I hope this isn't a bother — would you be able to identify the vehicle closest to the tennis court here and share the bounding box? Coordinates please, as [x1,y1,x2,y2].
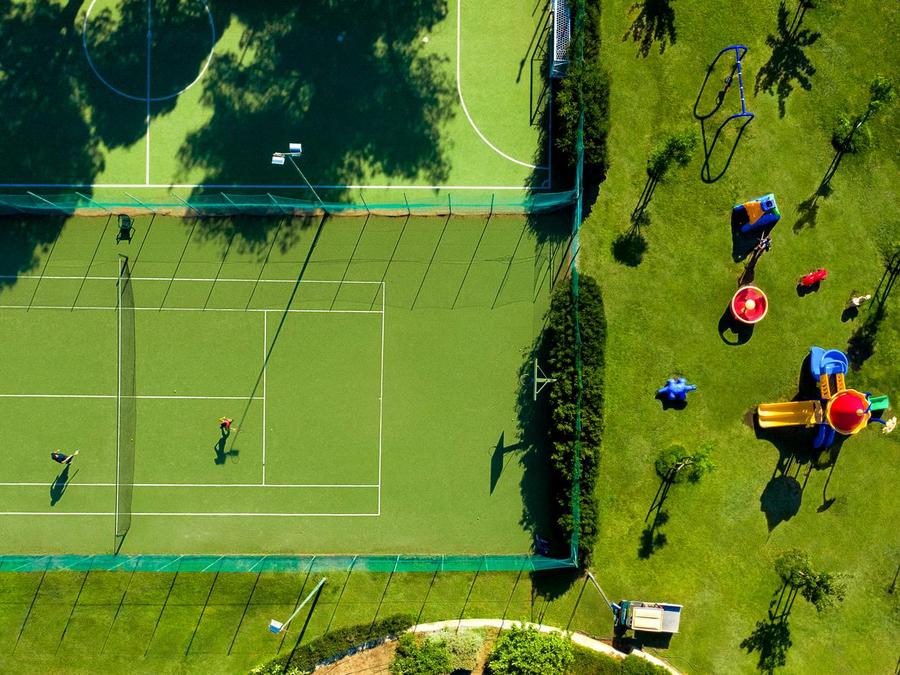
[613,601,686,640]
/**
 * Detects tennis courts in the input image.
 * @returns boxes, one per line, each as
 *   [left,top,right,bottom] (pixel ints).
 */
[0,213,569,555]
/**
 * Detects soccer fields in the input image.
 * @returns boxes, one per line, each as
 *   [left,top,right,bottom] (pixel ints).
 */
[0,0,555,208]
